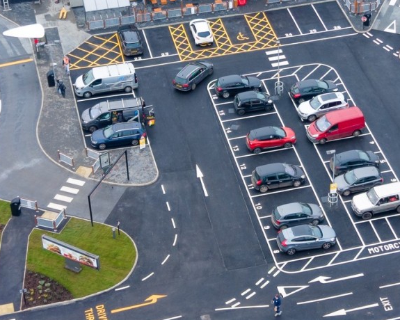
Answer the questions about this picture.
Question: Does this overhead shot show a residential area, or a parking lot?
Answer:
parking lot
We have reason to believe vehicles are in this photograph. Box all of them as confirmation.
[89,121,148,152]
[170,63,214,96]
[305,102,368,144]
[189,20,218,48]
[83,93,157,132]
[288,78,337,104]
[327,150,381,179]
[117,28,146,59]
[230,92,276,117]
[75,61,134,97]
[214,75,264,102]
[244,127,297,156]
[335,166,388,201]
[351,177,400,220]
[247,162,307,195]
[269,200,326,232]
[296,90,350,122]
